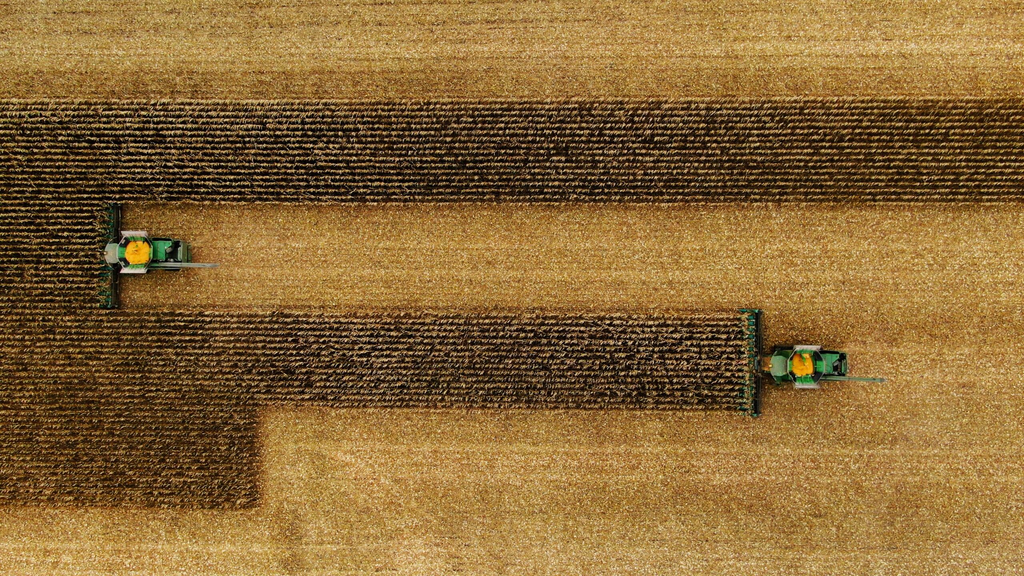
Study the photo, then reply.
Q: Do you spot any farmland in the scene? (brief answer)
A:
Yes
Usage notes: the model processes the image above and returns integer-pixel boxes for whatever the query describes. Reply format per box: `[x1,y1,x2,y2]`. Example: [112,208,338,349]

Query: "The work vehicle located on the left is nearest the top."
[100,203,219,306]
